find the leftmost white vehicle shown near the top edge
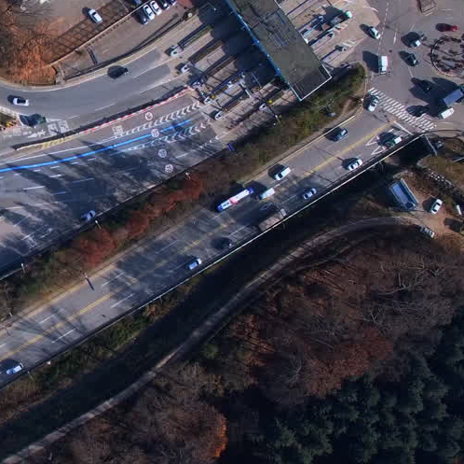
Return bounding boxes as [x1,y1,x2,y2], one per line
[87,8,103,24]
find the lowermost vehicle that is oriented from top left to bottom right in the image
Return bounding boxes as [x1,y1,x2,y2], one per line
[419,224,437,239]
